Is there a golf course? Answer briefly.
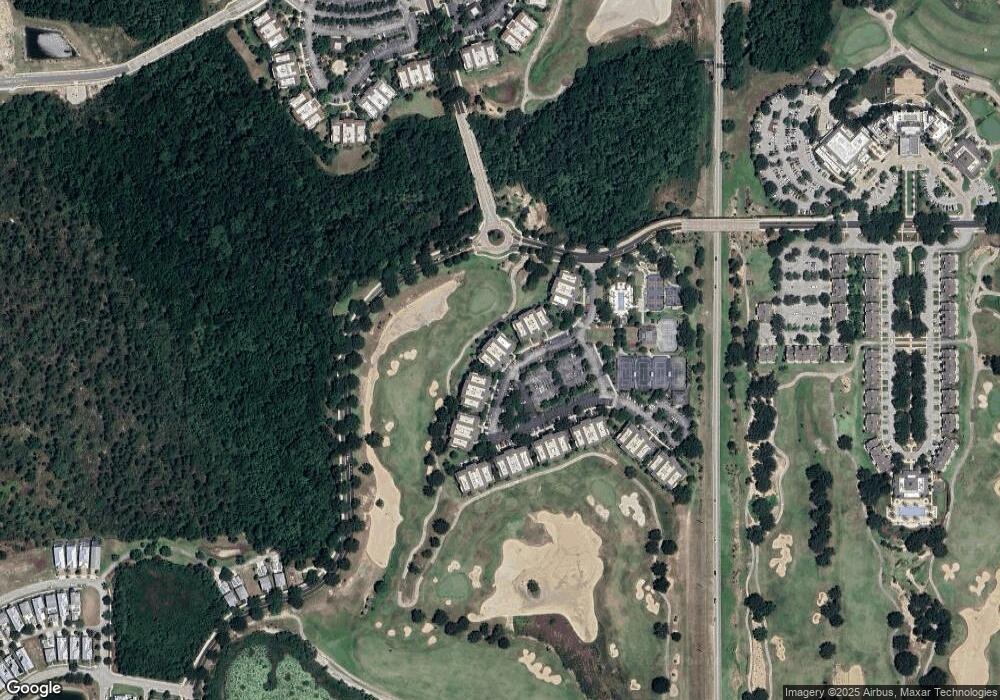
Yes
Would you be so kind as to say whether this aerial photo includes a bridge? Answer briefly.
Yes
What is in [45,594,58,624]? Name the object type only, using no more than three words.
house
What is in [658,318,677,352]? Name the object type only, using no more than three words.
sports court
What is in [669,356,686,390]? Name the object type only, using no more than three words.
tennis court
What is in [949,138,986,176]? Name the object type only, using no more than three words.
building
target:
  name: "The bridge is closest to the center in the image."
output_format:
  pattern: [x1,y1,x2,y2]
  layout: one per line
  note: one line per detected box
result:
[455,108,496,224]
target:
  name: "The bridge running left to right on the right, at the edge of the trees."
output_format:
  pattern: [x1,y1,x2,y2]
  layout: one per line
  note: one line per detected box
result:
[683,218,761,230]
